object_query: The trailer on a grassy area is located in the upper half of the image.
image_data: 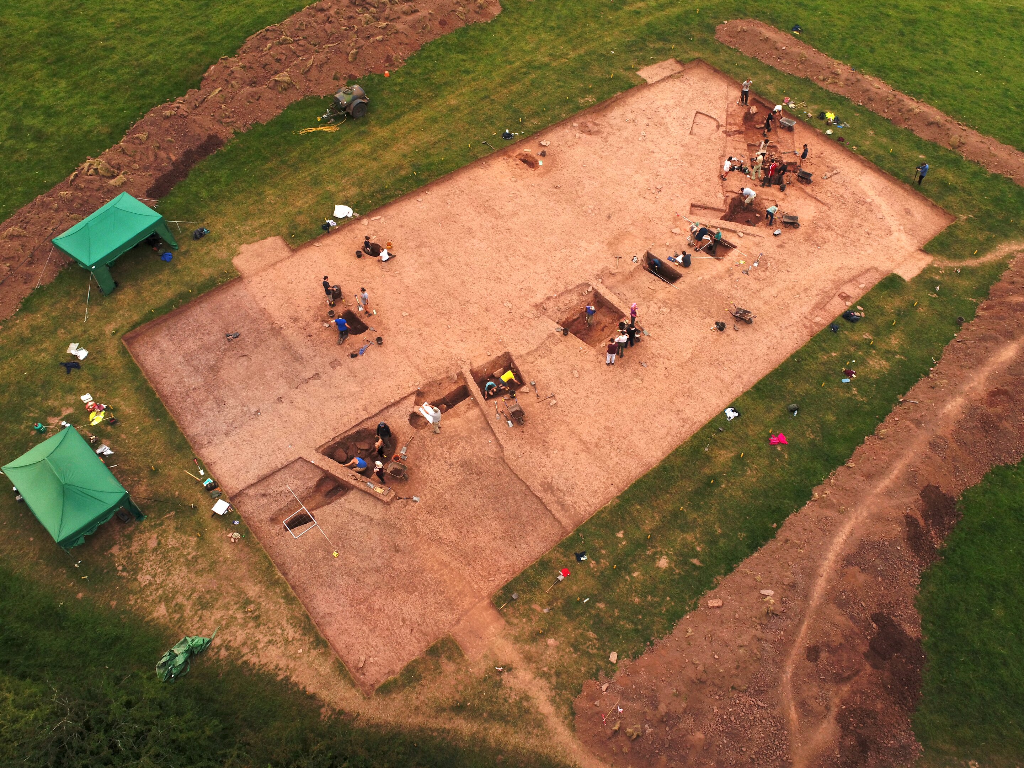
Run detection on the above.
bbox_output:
[317,79,368,123]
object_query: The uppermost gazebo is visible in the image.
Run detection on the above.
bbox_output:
[19,193,209,322]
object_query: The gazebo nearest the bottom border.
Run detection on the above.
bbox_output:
[1,425,193,582]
